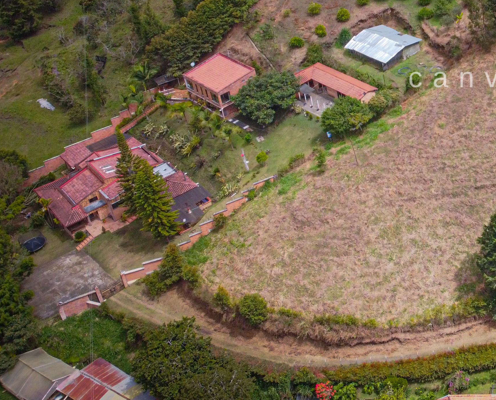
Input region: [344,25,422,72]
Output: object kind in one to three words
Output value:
shed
